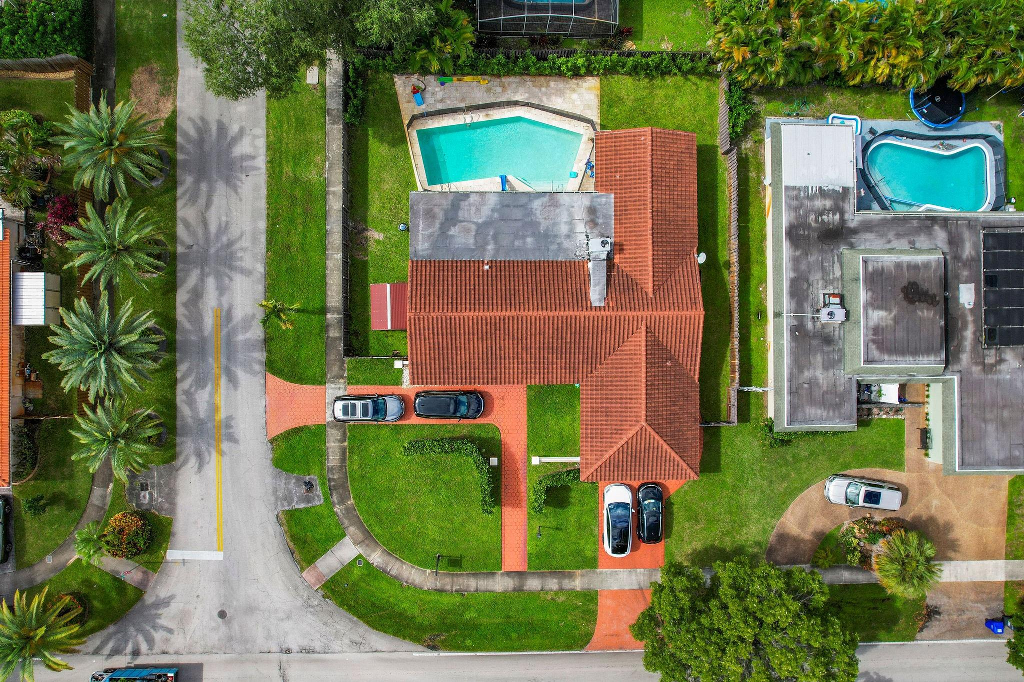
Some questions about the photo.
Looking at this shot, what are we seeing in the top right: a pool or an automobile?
pool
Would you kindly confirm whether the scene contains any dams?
No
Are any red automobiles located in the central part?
No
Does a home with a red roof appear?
Yes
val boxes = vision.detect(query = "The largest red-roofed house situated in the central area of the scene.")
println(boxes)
[404,125,706,482]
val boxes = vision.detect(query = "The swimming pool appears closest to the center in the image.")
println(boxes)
[409,109,591,189]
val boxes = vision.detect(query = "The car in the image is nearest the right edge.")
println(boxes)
[827,475,907,514]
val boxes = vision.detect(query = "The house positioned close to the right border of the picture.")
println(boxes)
[768,121,1024,474]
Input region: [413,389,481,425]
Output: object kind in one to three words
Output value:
car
